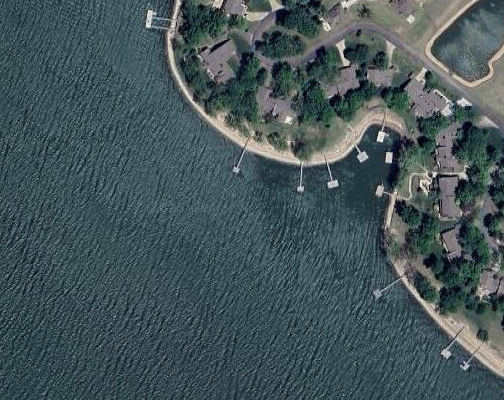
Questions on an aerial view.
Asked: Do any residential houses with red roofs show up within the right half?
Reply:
No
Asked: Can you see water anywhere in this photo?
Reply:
Yes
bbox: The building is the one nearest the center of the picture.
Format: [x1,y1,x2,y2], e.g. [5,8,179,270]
[255,86,297,125]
